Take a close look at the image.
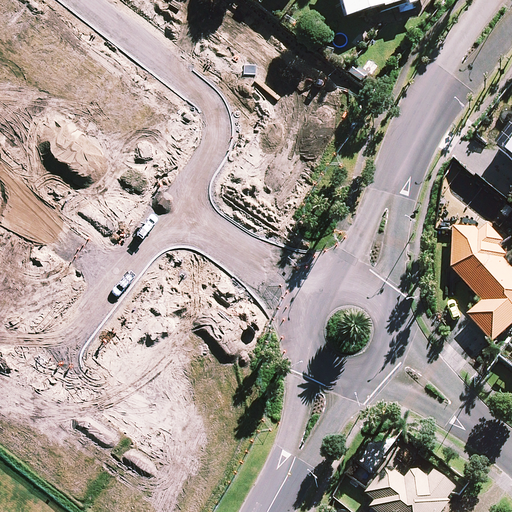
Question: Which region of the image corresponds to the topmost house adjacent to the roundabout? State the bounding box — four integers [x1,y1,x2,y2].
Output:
[450,222,512,340]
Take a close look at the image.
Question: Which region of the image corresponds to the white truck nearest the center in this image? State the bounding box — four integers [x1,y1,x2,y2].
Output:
[132,214,161,244]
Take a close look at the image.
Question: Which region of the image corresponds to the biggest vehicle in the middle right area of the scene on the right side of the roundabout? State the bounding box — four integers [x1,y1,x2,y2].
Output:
[446,300,461,321]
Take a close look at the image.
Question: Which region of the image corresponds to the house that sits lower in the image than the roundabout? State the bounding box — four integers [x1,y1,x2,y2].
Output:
[364,468,456,512]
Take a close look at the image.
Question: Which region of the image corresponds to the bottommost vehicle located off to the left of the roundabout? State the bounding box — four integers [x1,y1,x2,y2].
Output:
[111,271,138,296]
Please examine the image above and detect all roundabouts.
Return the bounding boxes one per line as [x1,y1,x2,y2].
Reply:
[285,256,416,403]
